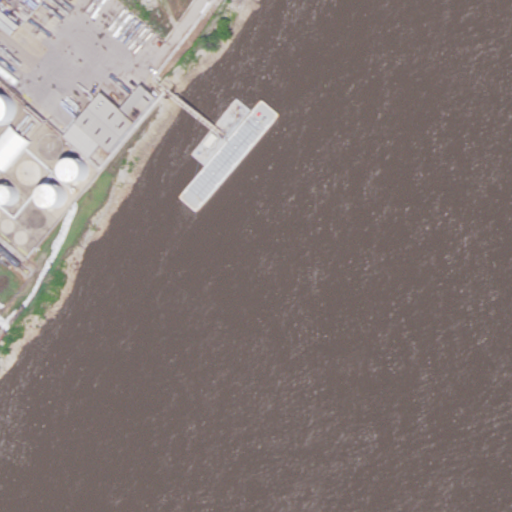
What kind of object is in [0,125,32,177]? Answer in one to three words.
building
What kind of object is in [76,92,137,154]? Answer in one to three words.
building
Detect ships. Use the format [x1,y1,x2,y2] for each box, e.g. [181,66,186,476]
[180,100,279,213]
[192,98,252,167]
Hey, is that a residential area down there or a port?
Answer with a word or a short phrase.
port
